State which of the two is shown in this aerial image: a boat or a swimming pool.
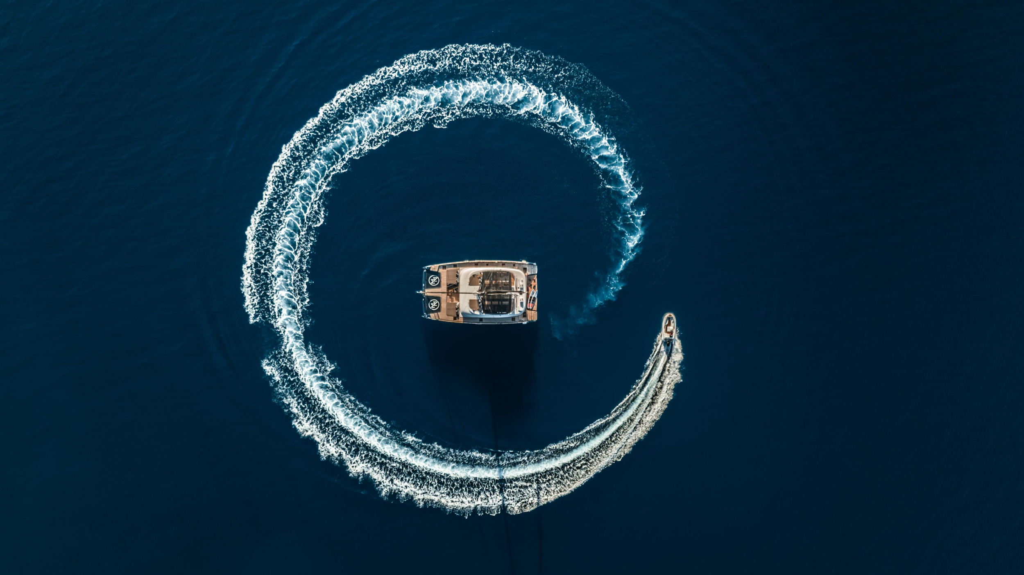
boat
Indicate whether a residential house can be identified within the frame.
No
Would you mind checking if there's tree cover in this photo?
No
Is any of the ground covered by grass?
No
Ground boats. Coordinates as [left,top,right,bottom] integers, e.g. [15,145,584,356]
[416,260,537,324]
[662,313,676,346]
